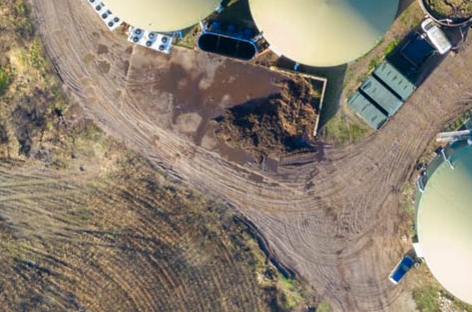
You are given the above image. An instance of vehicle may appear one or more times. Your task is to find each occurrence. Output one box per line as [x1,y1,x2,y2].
[387,252,414,283]
[417,18,453,56]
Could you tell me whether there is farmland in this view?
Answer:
Yes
